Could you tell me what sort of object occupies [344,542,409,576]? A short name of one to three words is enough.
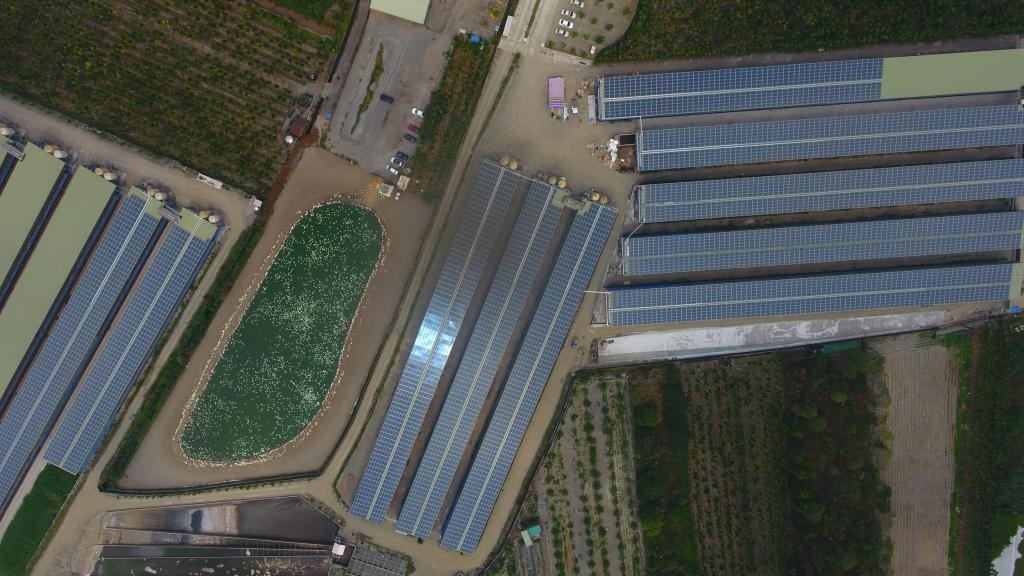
house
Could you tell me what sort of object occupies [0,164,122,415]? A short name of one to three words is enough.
barn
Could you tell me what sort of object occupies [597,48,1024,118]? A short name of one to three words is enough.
barn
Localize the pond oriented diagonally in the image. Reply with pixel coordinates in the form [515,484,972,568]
[179,202,386,465]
